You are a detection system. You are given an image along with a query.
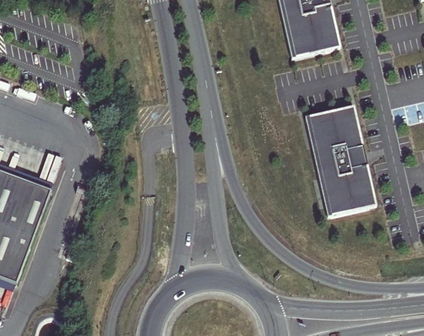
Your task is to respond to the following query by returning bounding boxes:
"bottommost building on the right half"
[308,105,376,220]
